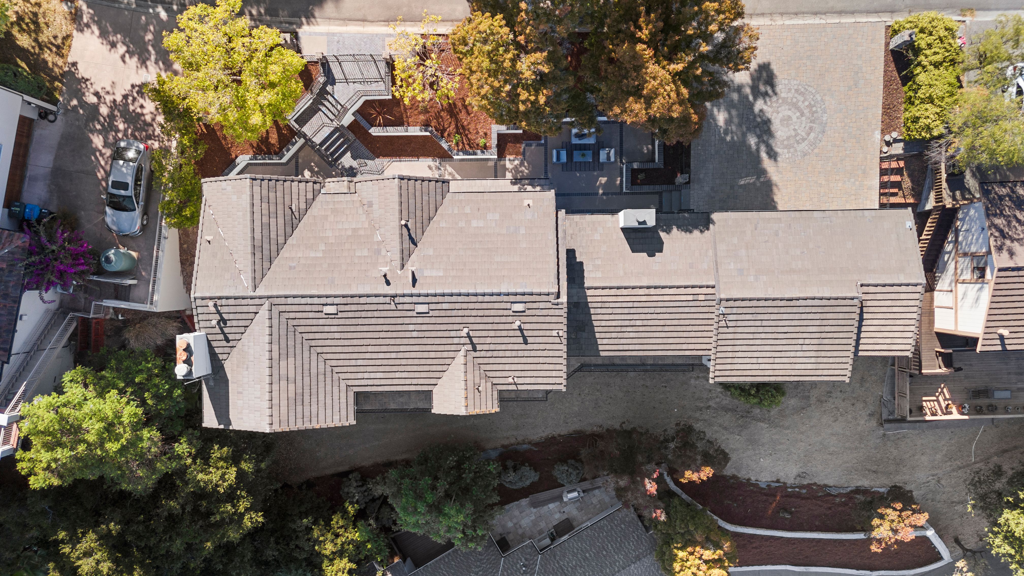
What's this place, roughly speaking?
residential area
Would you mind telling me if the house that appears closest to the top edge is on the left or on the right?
left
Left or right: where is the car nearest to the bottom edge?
left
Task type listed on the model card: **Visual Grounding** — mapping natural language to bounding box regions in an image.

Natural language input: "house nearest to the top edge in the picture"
[0,86,61,230]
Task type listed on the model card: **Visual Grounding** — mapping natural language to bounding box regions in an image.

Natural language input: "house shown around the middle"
[176,174,927,433]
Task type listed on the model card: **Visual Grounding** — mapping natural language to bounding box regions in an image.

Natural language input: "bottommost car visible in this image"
[102,139,156,239]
